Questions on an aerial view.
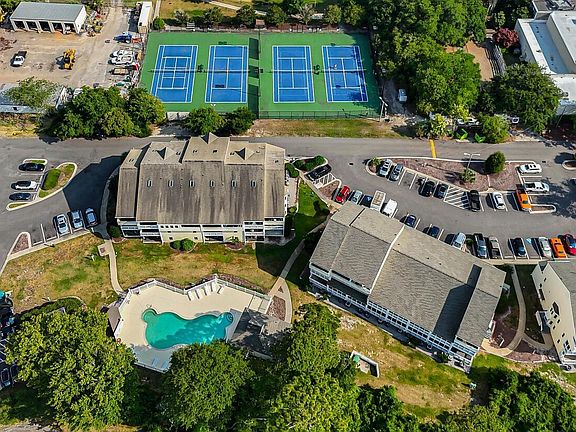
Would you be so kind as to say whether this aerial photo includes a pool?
Yes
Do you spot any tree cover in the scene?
Yes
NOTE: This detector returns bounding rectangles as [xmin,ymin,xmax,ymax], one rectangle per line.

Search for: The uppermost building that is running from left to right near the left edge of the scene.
[7,0,85,34]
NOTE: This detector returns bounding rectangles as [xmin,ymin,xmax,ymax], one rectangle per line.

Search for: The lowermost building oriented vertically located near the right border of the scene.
[532,260,576,364]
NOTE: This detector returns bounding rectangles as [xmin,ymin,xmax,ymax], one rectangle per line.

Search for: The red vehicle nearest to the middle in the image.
[337,186,349,203]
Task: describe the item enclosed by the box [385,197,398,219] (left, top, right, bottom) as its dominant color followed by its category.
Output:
white vehicle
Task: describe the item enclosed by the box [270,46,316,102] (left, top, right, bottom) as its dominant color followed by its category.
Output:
blue tennis court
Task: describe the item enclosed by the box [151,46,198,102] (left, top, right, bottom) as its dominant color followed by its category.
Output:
blue tennis court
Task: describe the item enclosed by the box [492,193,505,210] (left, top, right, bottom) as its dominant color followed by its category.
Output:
white vehicle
